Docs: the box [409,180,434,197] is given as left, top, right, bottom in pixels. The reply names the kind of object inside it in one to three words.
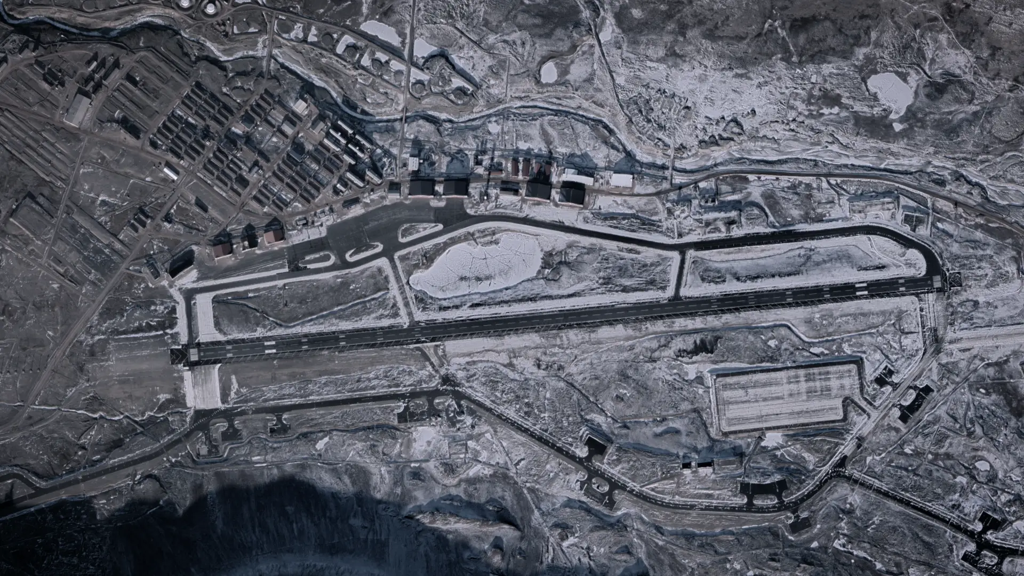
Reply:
hangar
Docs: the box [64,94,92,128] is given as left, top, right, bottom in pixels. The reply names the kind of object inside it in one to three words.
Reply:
building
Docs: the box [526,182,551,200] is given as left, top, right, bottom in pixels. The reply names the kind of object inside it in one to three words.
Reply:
hangar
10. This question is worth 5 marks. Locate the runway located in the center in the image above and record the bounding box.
[184,276,942,361]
